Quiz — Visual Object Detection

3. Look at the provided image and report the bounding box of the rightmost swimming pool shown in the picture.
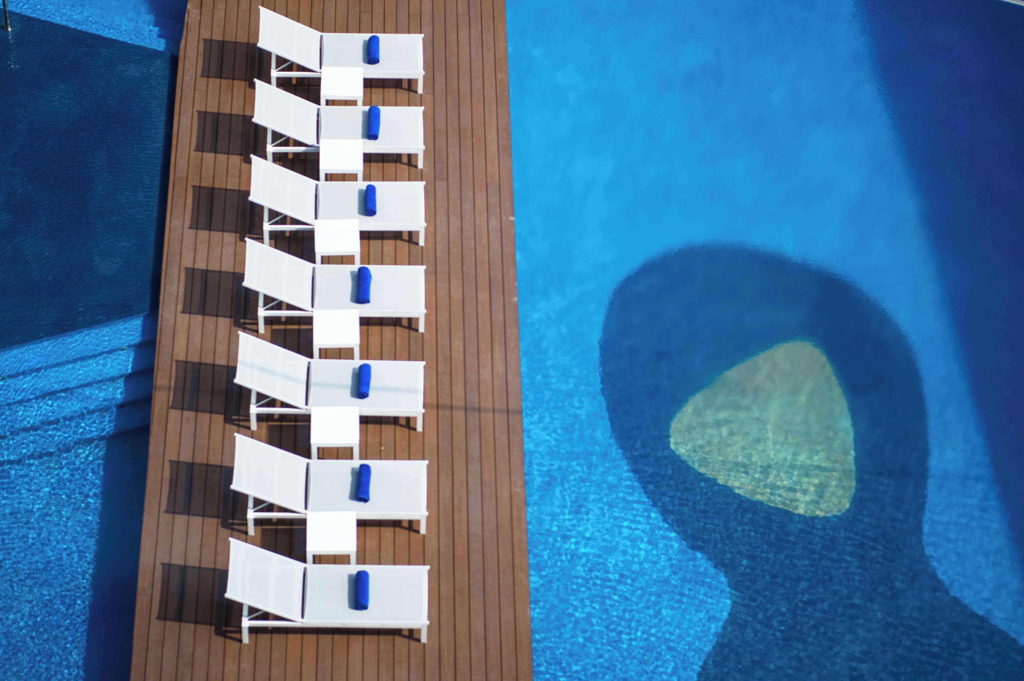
[505,0,1024,681]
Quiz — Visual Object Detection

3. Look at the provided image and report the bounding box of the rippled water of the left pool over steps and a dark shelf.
[0,0,188,681]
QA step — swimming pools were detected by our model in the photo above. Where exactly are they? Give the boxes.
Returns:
[505,0,1024,681]
[0,0,188,681]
